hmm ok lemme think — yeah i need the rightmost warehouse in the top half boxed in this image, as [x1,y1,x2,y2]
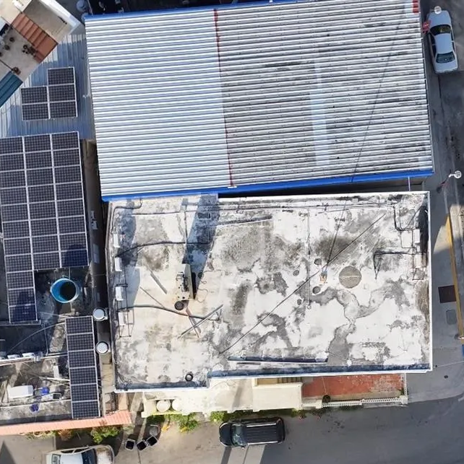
[84,0,435,201]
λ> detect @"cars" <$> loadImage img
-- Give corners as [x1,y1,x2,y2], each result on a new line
[218,419,286,453]
[44,446,114,464]
[428,6,458,73]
